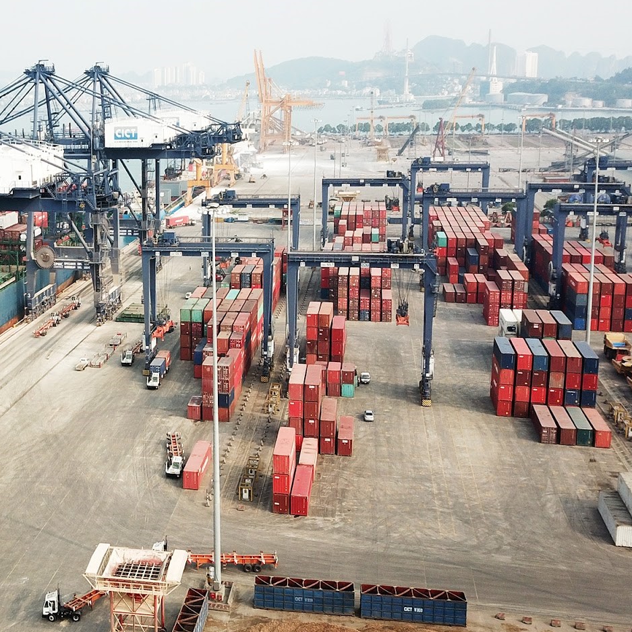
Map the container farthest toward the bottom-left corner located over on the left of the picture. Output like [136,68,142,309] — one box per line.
[183,443,212,491]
